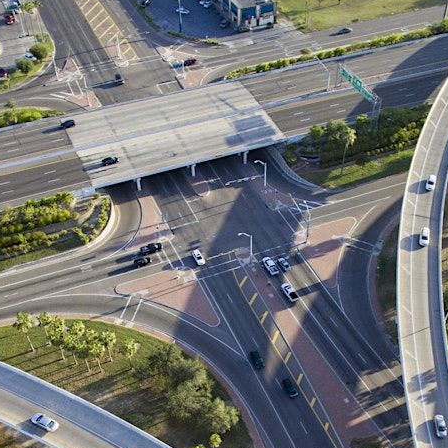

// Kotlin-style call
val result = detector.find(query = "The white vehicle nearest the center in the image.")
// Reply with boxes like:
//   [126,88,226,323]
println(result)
[193,249,206,264]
